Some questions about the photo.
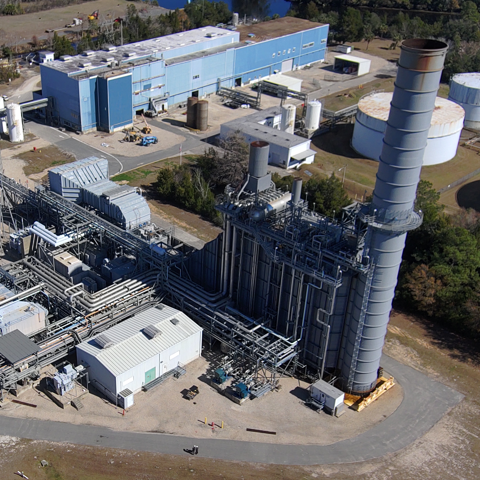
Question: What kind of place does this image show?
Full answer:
It's an industrial area.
